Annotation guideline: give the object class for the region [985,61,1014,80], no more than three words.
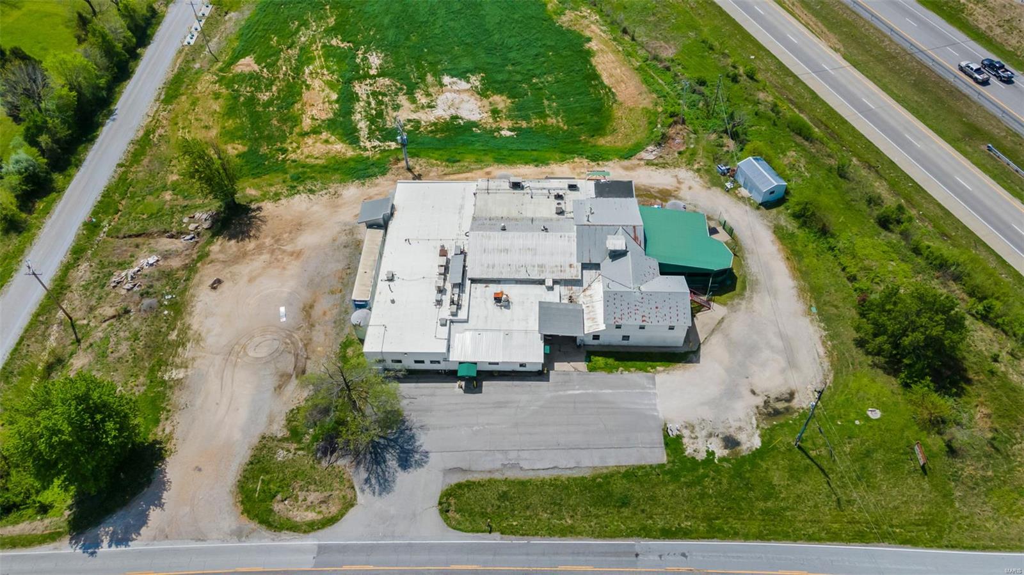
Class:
vehicle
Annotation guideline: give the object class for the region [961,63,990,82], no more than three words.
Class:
vehicle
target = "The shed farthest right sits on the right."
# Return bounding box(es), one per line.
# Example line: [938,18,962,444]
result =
[742,158,791,203]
